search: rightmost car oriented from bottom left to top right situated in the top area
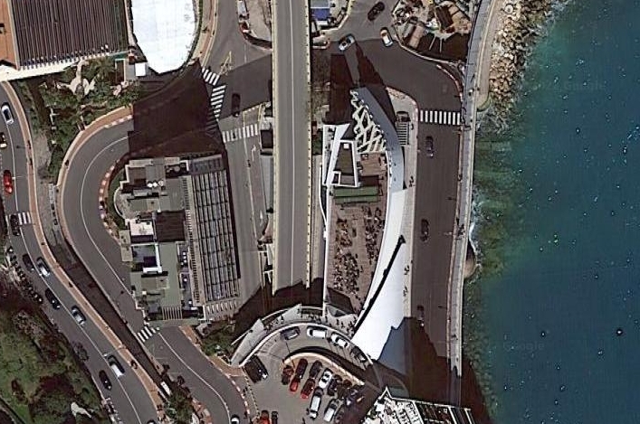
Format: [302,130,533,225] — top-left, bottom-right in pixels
[368,1,386,20]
